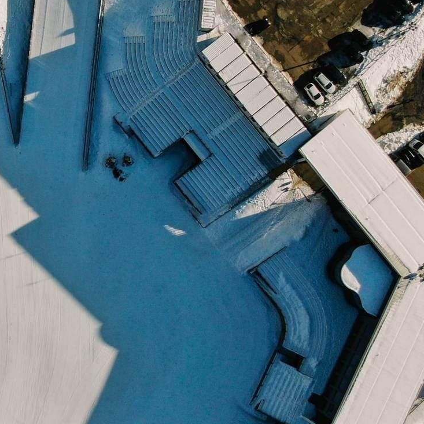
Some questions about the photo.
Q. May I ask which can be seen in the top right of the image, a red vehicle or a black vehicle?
black vehicle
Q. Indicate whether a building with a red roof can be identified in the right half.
No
